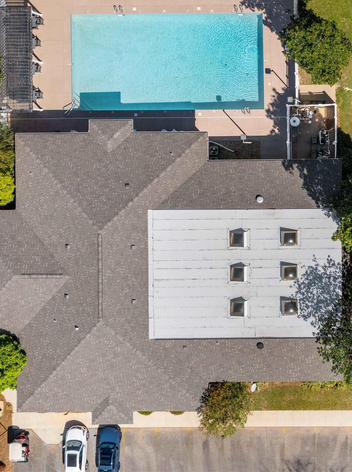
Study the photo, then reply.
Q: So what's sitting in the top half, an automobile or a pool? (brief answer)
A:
pool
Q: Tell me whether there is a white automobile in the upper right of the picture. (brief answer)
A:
No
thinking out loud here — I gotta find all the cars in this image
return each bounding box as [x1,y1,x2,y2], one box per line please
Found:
[60,429,87,472]
[94,429,120,472]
